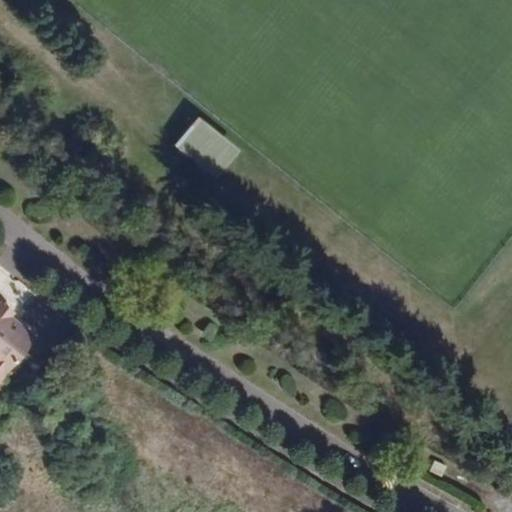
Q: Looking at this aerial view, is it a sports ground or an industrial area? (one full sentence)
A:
It's a sports ground.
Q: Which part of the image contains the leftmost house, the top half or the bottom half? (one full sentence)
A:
Seen from above, the leftmost house lies in the bottom half of the view.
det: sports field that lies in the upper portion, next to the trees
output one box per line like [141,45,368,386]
[76,0,512,308]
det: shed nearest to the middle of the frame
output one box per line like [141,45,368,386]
[174,117,240,181]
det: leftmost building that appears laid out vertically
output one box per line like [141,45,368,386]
[0,315,29,384]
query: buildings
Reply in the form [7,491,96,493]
[429,459,446,476]
[0,315,29,384]
[174,117,240,181]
